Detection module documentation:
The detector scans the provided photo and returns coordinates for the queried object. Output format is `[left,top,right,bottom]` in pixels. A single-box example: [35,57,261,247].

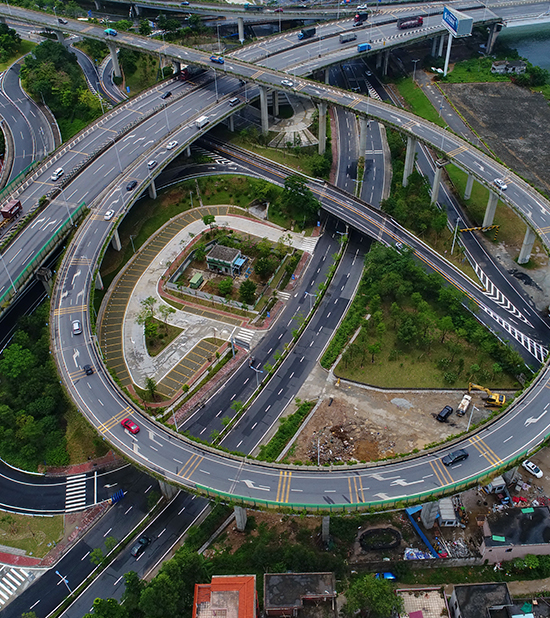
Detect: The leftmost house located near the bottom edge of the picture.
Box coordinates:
[192,574,258,618]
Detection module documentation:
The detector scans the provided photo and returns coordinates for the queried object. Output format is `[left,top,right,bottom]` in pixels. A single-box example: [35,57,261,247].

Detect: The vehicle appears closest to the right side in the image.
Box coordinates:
[520,460,545,477]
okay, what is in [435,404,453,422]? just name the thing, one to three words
car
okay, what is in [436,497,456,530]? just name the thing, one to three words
shed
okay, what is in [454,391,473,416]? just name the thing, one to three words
vehicle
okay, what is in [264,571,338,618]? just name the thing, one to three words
house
